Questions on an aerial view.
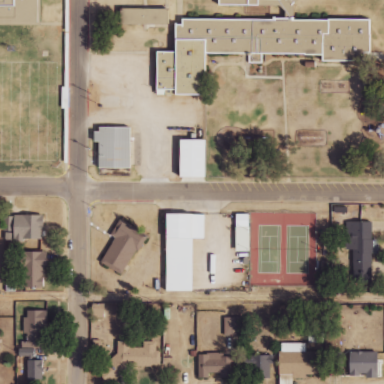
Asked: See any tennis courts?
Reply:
Yes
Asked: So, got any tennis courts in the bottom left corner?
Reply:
No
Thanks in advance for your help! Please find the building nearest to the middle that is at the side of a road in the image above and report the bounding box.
[180,139,206,177]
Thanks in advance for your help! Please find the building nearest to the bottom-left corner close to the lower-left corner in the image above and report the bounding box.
[27,360,42,380]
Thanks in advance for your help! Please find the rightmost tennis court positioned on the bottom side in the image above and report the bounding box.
[284,212,316,285]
